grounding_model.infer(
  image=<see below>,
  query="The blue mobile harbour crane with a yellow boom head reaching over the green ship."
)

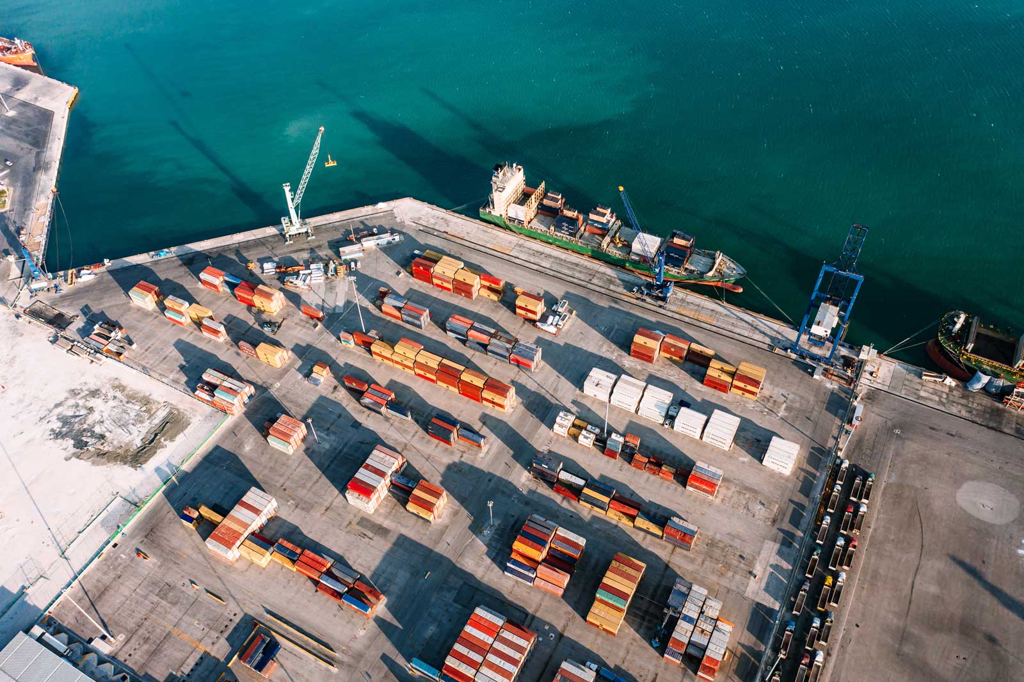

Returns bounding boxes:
[617,186,677,310]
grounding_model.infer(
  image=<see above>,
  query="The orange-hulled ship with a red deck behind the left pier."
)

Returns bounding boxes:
[0,39,42,67]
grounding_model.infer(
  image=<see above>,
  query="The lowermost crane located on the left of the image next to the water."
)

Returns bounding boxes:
[0,247,66,297]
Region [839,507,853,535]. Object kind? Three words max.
vehicle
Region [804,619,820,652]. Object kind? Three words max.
vehicle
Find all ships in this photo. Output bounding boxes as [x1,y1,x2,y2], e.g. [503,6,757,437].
[482,161,746,293]
[0,39,42,67]
[922,304,1024,396]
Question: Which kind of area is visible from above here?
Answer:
port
